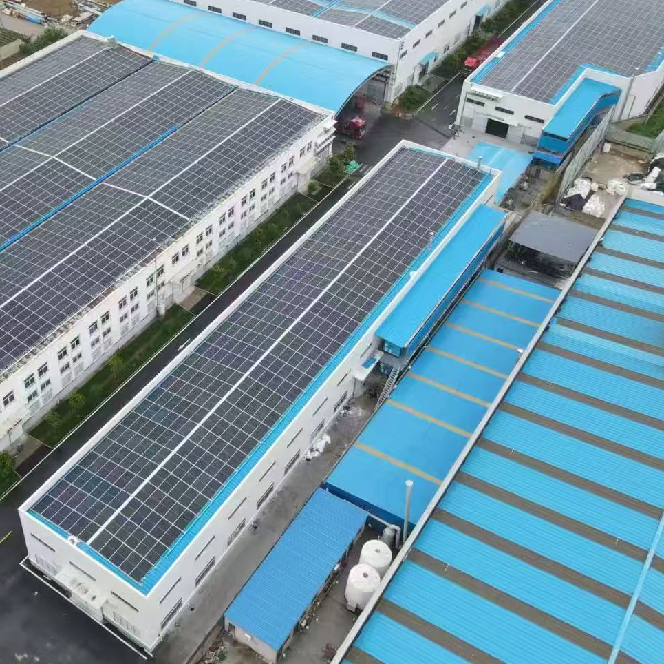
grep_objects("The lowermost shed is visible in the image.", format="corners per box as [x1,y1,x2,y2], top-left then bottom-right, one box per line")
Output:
[222,486,365,664]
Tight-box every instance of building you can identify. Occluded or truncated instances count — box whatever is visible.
[0,30,339,462]
[17,139,502,658]
[455,0,664,147]
[329,193,664,664]
[171,0,505,103]
[222,486,365,664]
